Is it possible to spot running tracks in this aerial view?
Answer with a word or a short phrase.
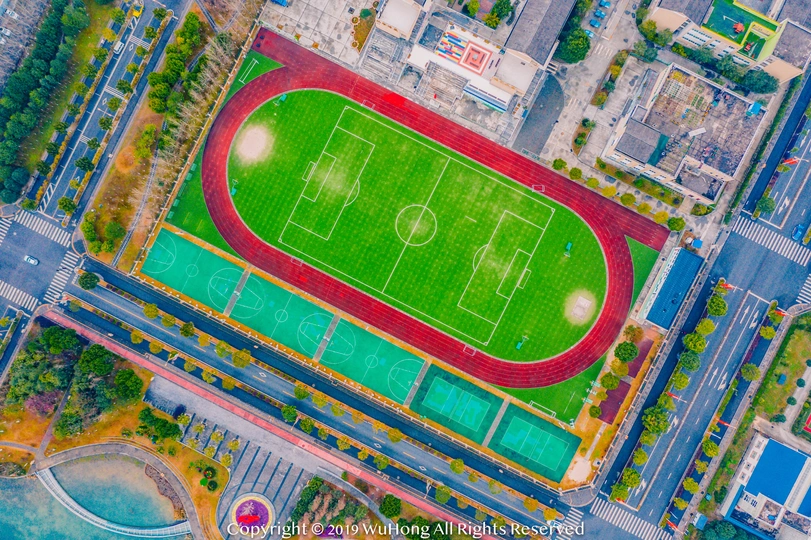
Yes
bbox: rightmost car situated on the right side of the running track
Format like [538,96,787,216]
[791,226,804,241]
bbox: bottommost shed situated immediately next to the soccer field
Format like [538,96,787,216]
[636,247,704,331]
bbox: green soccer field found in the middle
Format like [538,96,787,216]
[227,89,606,361]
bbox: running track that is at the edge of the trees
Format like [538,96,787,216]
[198,27,671,390]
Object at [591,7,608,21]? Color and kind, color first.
blue vehicle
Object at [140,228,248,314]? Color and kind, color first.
green basketball court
